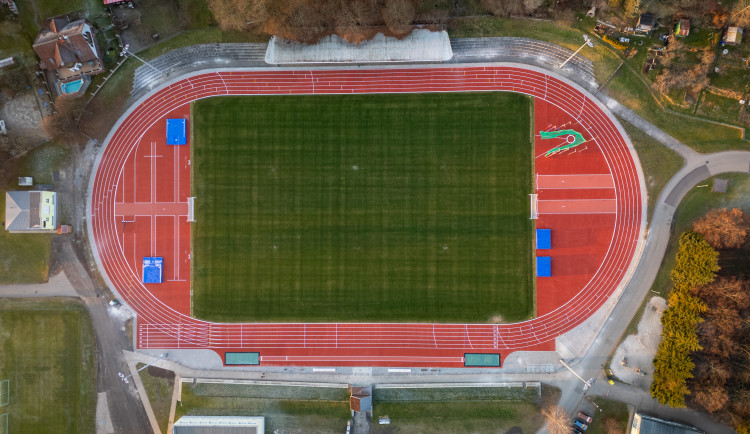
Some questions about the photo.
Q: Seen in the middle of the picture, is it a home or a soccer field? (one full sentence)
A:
Visible in the middle of the picture is a soccer field.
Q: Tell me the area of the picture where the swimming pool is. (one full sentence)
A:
The swimming pool appears toward the top left of the photo.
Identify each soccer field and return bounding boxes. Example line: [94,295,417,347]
[190,91,536,324]
[0,310,82,434]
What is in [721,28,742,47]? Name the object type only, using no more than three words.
shed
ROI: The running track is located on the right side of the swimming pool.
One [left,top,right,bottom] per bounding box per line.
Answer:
[92,67,641,367]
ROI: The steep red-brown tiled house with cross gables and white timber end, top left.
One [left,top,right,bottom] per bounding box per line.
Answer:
[33,18,106,81]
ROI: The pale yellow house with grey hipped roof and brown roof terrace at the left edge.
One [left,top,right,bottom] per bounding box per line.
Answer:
[4,191,58,232]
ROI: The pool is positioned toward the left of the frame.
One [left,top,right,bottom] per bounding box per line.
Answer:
[55,77,91,100]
